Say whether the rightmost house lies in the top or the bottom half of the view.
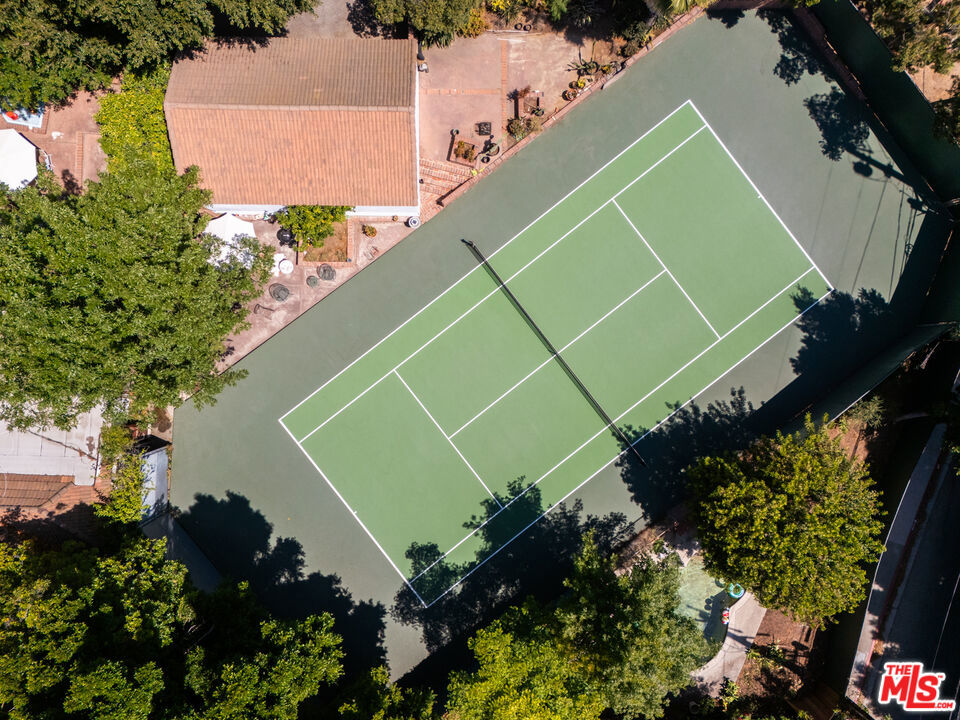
top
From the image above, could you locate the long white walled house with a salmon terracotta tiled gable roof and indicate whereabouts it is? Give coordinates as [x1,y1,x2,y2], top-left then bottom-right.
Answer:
[160,30,421,217]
